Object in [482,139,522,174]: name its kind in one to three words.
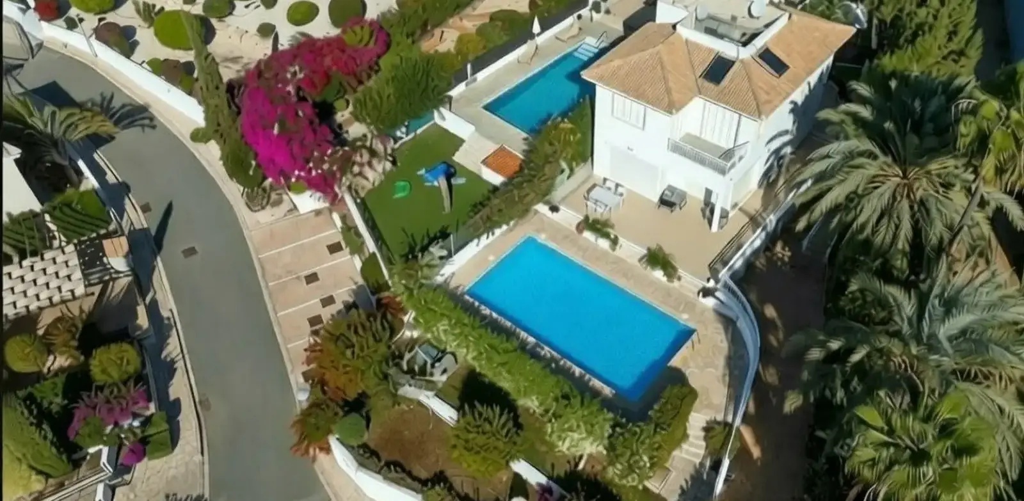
shed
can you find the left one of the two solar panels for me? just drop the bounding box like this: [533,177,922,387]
[699,58,732,88]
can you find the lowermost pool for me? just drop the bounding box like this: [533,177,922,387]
[457,230,704,404]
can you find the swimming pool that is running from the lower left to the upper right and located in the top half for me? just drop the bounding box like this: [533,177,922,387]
[477,34,615,135]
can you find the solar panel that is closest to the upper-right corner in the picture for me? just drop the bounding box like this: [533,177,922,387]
[760,48,791,77]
